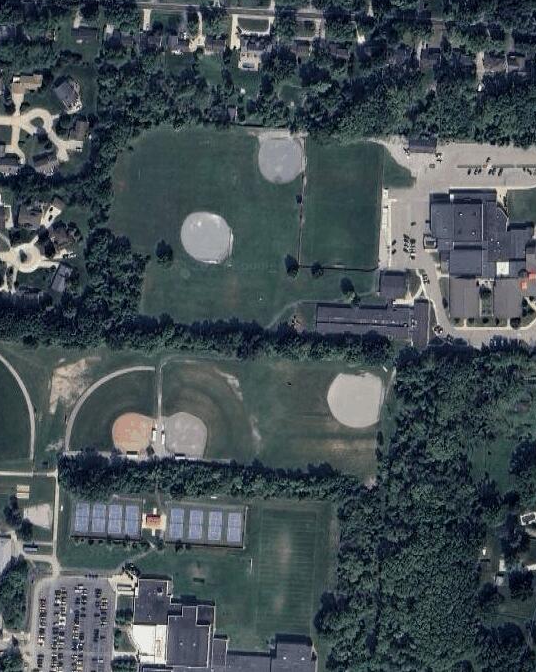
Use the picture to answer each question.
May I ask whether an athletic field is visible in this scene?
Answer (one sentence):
Yes, looking at the shot, I can spot an athletic field.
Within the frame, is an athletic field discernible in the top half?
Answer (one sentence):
Yes, an athletic field shows up in the top half.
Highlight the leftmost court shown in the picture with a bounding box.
[24,503,52,527]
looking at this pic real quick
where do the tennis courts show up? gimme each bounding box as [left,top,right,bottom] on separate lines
[189,510,203,539]
[208,511,222,540]
[125,505,139,534]
[92,503,105,532]
[227,513,241,542]
[108,504,122,533]
[171,509,185,538]
[75,503,89,532]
